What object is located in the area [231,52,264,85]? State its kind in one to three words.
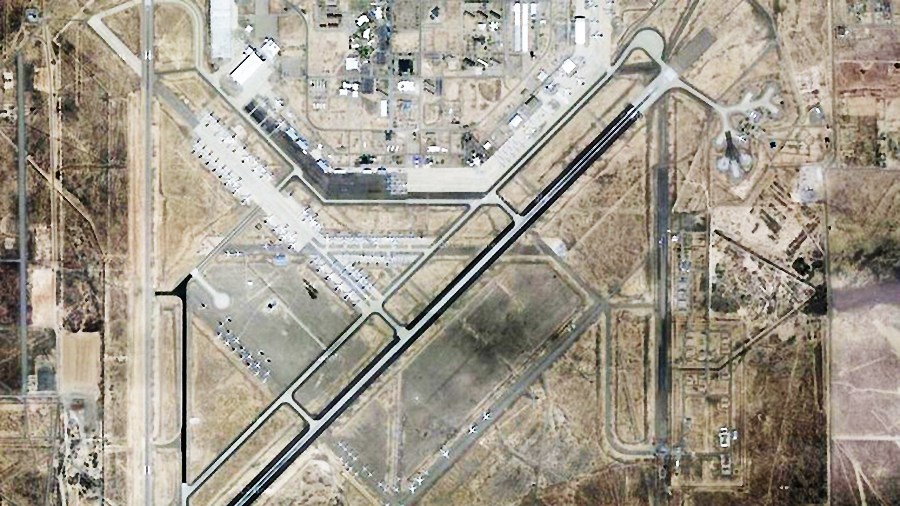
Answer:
hangar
